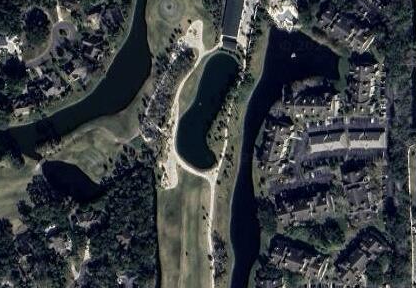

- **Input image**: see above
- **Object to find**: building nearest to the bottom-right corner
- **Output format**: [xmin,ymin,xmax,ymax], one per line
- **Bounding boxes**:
[335,239,392,288]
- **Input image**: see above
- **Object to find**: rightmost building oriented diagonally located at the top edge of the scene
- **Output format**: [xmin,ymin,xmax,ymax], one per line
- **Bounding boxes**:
[316,4,377,56]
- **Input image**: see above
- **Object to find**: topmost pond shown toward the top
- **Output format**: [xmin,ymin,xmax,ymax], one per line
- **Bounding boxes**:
[177,51,237,168]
